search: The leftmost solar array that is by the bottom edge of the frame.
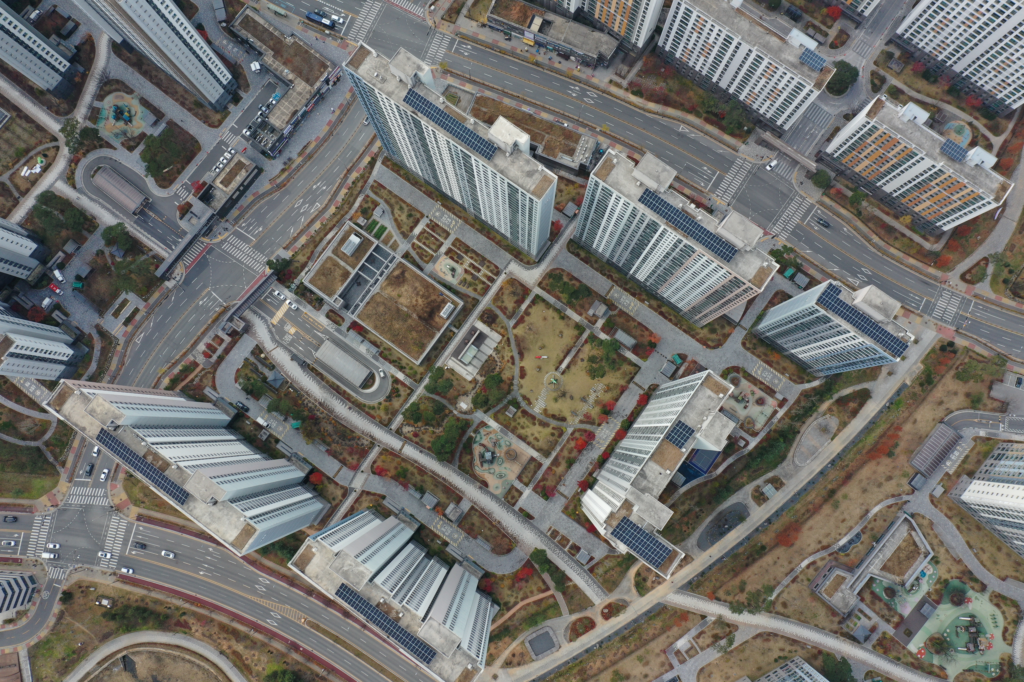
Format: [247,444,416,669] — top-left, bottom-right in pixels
[334,582,437,664]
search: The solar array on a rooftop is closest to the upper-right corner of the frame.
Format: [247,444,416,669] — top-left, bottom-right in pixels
[937,139,967,163]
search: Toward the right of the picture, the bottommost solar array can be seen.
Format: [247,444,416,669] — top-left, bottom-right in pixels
[609,515,672,568]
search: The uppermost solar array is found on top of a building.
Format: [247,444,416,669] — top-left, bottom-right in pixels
[797,51,826,73]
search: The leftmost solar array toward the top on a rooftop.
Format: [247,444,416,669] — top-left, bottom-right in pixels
[402,88,497,162]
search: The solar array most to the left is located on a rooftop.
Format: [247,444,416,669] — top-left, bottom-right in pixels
[96,427,191,507]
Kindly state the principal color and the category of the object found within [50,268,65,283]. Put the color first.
white vehicle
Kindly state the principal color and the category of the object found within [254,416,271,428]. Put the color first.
white vehicle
